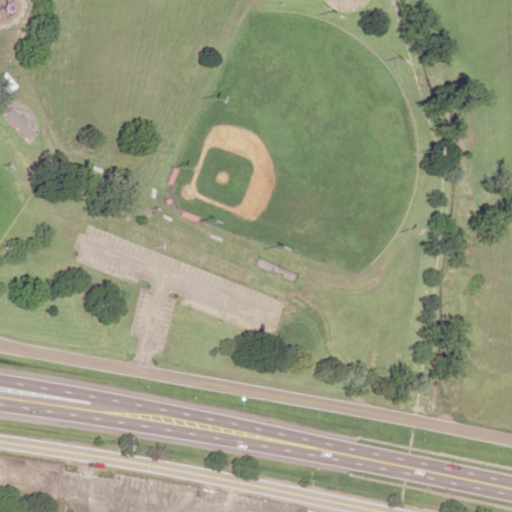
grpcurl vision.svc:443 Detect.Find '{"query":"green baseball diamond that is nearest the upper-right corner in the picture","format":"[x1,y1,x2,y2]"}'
[168,0,420,274]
